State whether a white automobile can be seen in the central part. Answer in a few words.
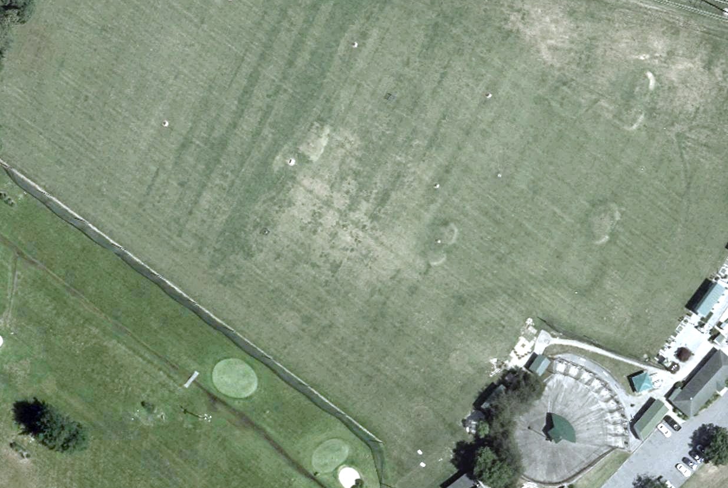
No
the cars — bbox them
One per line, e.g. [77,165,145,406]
[664,415,681,431]
[675,461,691,478]
[656,422,671,438]
[682,454,697,471]
[666,479,676,488]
